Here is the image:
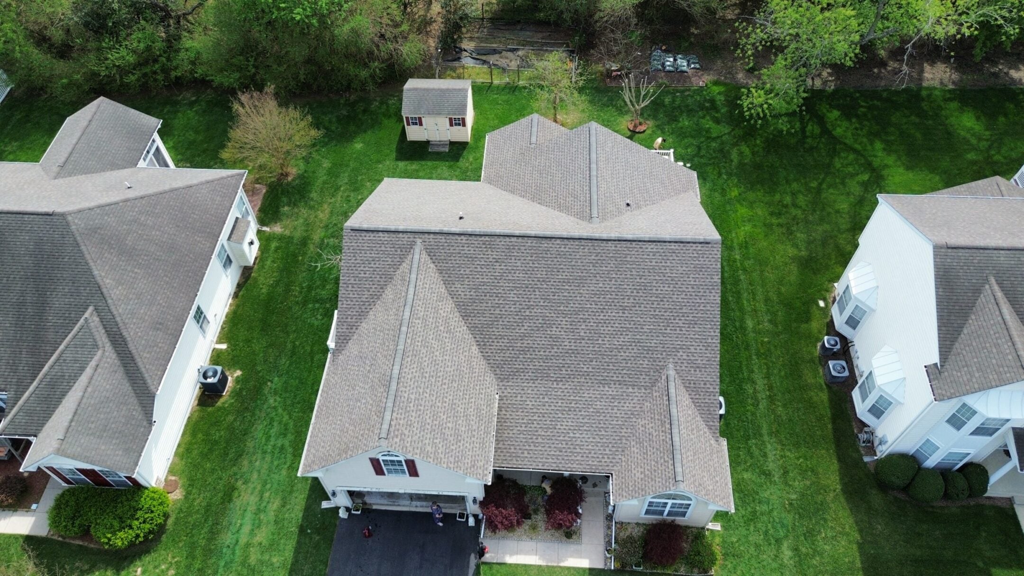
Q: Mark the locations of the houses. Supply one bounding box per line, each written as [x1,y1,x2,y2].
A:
[826,175,1024,511]
[0,96,263,485]
[297,113,737,526]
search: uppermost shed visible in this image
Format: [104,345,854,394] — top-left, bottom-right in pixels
[402,76,473,150]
